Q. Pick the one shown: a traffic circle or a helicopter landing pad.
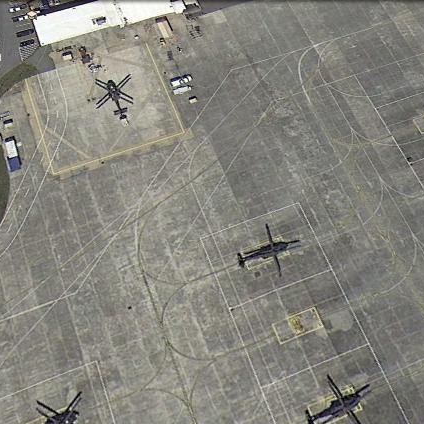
helicopter landing pad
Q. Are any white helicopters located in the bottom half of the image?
No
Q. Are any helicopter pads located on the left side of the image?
Yes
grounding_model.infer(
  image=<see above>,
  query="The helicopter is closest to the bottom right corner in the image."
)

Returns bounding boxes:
[298,380,365,424]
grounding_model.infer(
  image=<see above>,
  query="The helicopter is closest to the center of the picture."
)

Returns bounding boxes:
[235,224,297,270]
